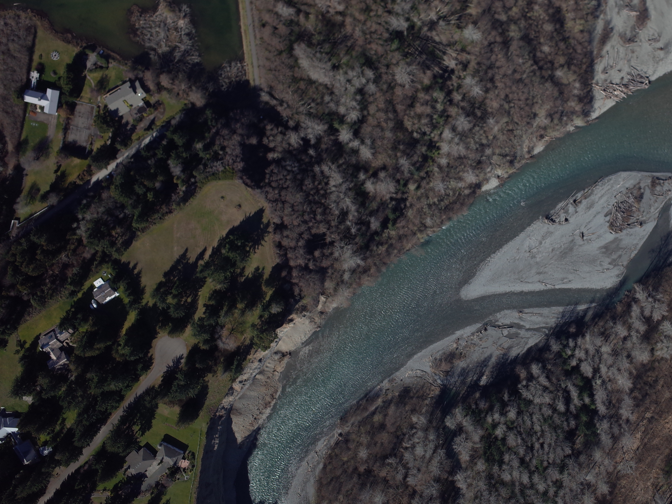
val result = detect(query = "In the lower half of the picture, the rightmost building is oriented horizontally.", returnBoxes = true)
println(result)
[124,440,187,478]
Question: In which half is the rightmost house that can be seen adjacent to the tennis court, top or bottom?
top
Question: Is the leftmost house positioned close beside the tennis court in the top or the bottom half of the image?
top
